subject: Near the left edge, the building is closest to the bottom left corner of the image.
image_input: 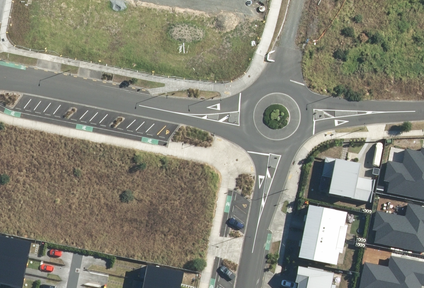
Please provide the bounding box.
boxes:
[0,234,30,287]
